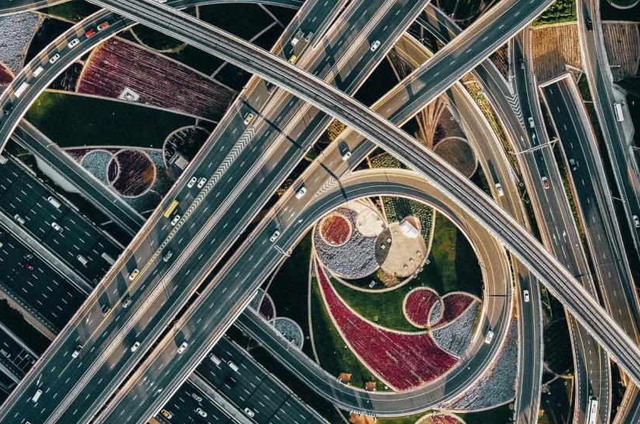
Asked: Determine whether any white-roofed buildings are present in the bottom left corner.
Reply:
No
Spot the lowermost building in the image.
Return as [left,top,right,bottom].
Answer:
[399,217,426,243]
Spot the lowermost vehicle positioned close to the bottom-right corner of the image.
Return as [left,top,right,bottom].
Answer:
[587,398,602,424]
